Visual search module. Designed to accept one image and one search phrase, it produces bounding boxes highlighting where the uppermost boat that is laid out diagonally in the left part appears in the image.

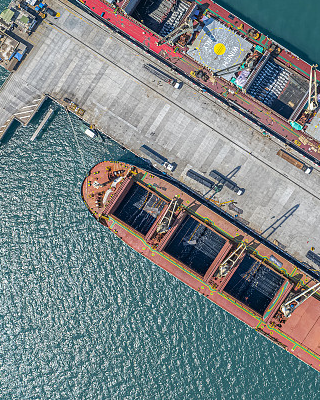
[80,123,105,145]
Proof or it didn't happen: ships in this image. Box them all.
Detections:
[76,0,320,163]
[81,161,320,373]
